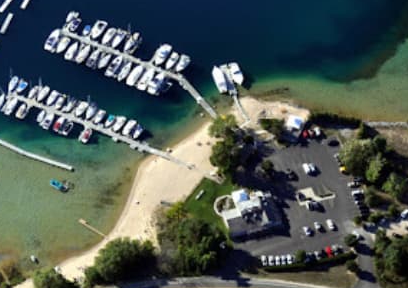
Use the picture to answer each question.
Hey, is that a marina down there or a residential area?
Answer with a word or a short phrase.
marina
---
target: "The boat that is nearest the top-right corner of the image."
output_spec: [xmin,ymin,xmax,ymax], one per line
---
[228,62,243,86]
